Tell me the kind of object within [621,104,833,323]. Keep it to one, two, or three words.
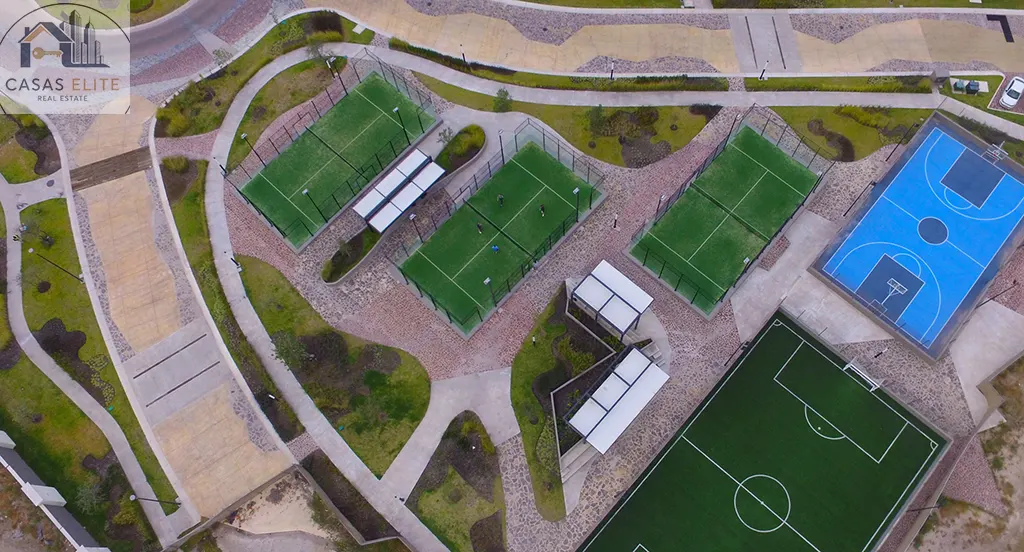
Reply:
sports court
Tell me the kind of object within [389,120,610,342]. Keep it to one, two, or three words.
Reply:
sports court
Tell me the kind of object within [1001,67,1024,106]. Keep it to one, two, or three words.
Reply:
car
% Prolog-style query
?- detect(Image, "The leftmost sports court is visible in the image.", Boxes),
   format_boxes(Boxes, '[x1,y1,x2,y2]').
[223,48,444,256]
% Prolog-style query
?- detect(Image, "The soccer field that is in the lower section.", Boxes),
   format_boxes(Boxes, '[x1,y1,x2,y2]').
[578,302,958,552]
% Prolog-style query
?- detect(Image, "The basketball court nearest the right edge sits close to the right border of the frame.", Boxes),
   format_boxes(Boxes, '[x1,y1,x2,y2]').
[807,100,1024,366]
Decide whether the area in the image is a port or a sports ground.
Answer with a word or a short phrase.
sports ground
